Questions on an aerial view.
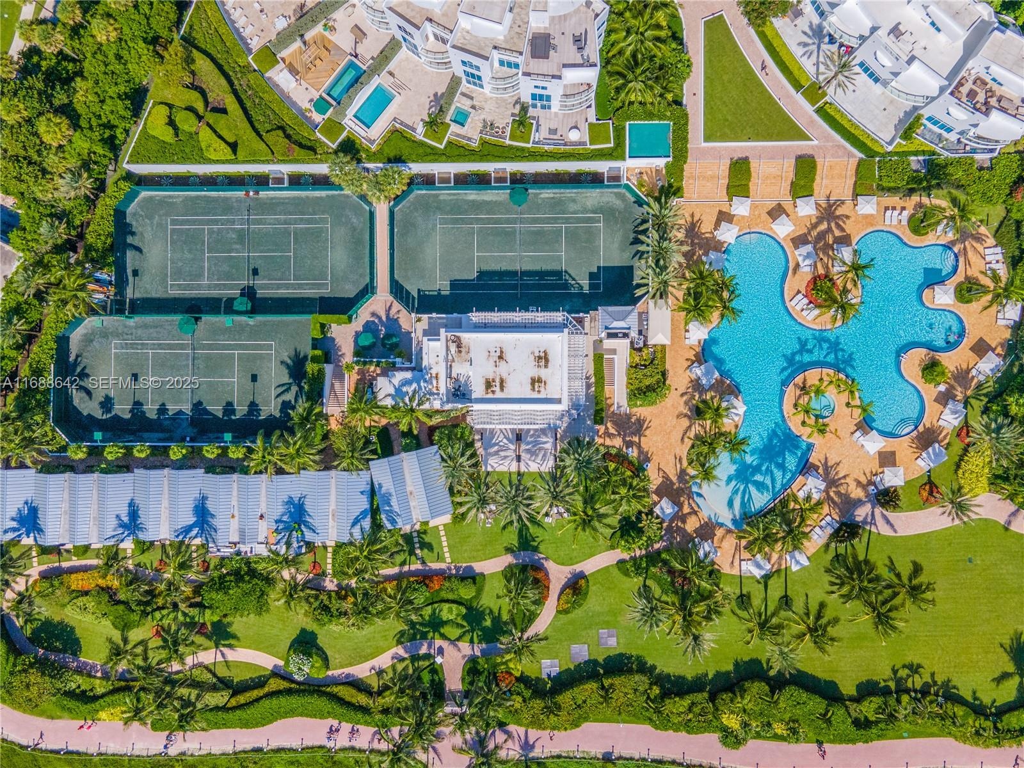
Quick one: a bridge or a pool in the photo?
pool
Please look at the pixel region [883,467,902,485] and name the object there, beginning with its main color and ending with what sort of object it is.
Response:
white umbrella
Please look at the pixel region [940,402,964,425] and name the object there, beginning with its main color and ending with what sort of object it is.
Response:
white umbrella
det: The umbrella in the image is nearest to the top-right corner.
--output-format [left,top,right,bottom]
[856,196,875,213]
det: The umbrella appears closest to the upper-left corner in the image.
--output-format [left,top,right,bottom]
[274,67,299,93]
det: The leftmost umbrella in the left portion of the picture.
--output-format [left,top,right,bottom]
[179,316,197,334]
